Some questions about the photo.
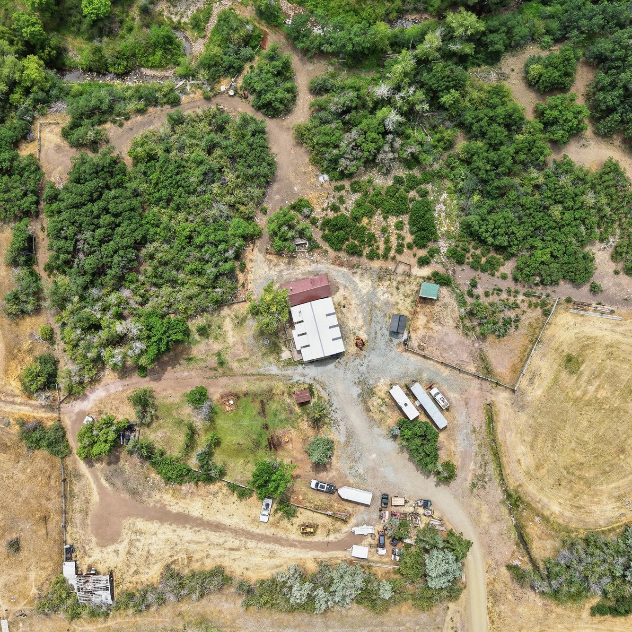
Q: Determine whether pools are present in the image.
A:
No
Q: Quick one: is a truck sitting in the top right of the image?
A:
No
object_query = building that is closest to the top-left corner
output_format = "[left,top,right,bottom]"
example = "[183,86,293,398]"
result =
[282,275,332,307]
